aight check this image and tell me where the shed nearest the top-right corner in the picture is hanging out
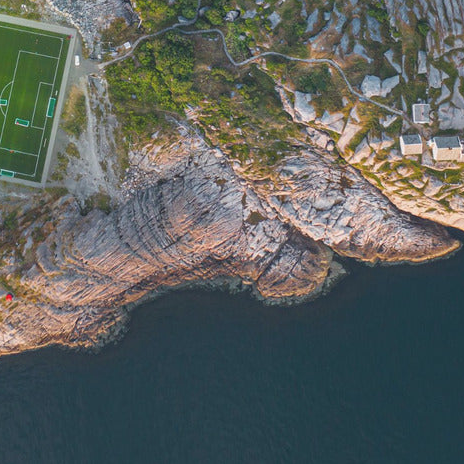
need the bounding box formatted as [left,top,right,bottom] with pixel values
[410,104,430,123]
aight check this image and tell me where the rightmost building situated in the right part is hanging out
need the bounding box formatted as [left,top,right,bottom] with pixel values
[428,137,464,160]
